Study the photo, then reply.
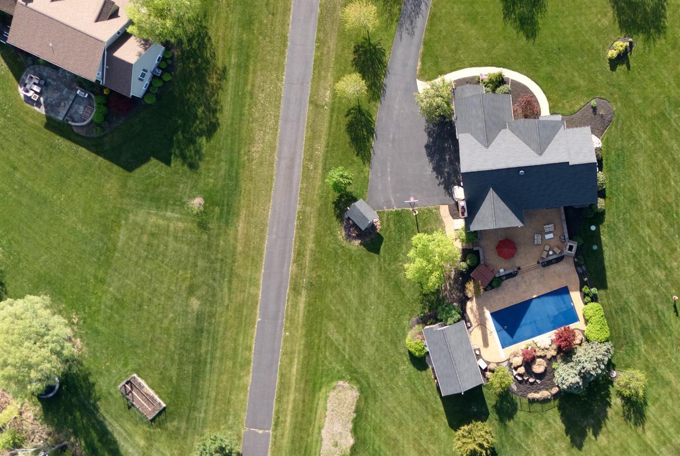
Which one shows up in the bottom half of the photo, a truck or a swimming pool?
swimming pool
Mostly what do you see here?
grass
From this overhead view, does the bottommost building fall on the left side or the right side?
right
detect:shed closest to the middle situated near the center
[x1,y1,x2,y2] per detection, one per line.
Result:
[346,198,378,231]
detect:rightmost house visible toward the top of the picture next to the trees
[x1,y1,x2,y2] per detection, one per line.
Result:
[450,83,598,232]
